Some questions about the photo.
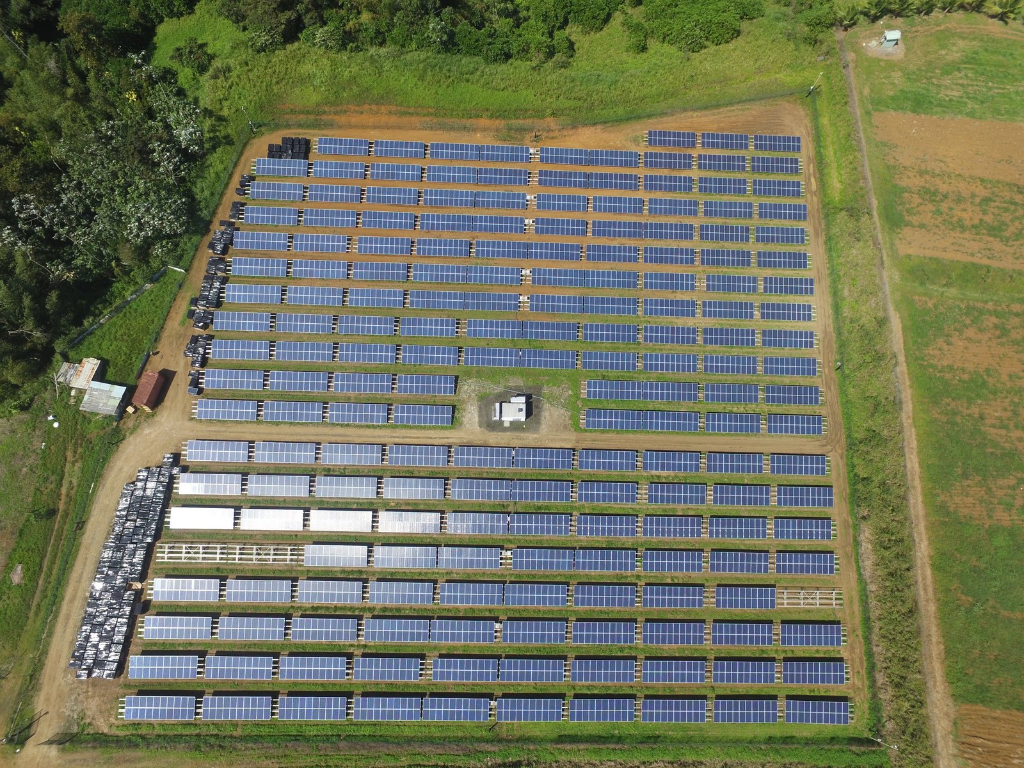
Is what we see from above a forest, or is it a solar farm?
solar farm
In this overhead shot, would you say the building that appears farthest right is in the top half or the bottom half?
top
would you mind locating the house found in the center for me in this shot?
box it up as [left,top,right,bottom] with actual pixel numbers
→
[502,403,526,421]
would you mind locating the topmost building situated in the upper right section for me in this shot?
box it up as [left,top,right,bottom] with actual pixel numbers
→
[875,29,903,49]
